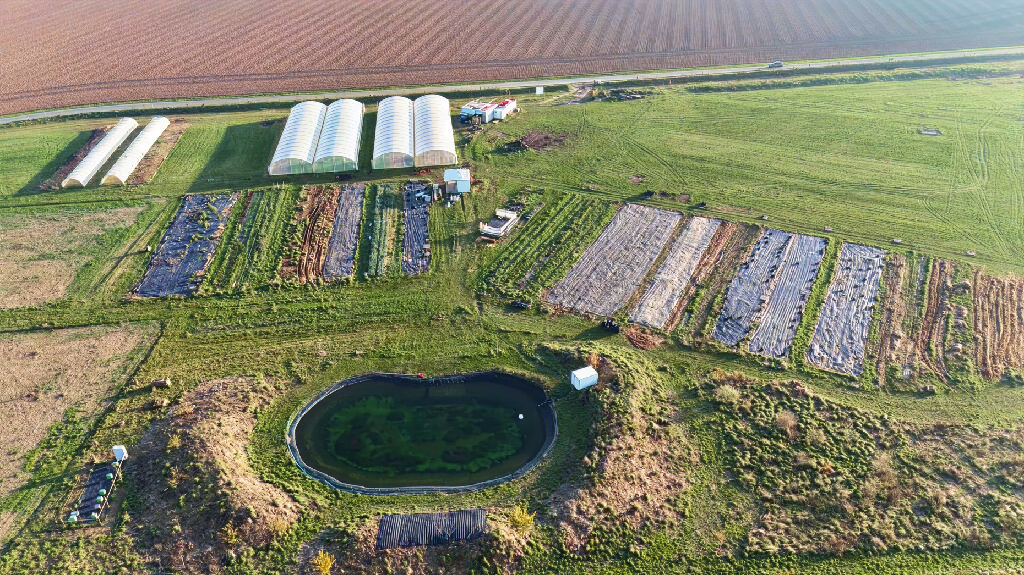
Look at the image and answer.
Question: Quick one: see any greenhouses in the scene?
Yes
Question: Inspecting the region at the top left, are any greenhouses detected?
Yes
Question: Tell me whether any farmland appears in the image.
Yes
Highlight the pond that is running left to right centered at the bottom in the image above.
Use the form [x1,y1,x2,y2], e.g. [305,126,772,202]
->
[302,383,545,491]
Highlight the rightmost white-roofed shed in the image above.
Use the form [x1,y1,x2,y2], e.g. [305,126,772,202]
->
[570,362,599,390]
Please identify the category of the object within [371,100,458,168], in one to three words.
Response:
greenhouse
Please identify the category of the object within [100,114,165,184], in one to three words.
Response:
greenhouse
